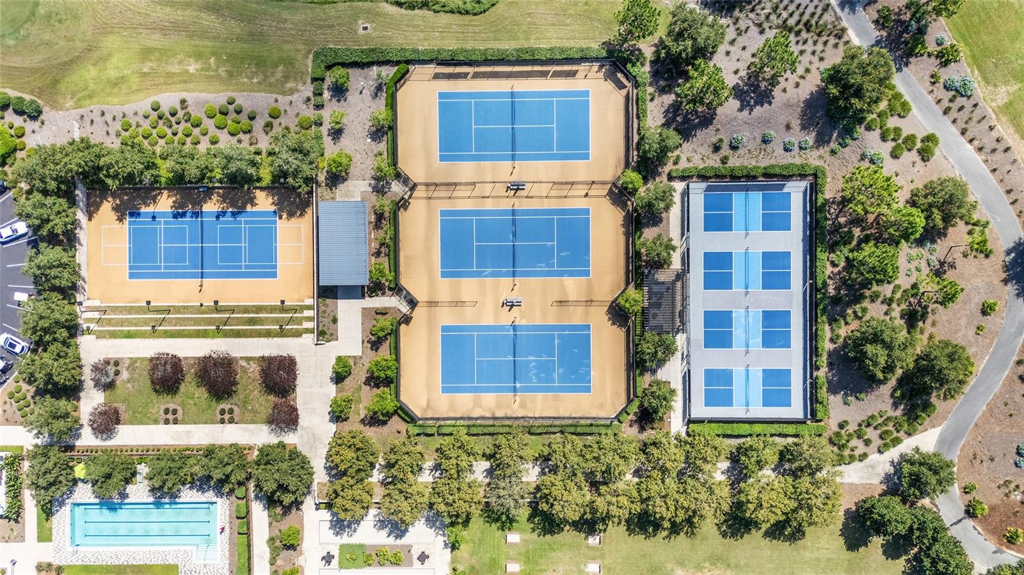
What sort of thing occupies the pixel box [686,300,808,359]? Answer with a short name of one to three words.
sports court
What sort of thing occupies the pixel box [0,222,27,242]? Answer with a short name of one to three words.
car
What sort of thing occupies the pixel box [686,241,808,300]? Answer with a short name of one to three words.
sports court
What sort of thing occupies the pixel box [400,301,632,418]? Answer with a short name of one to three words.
tennis court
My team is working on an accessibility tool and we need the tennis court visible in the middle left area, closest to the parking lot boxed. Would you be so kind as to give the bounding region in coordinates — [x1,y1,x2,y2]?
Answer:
[86,189,310,302]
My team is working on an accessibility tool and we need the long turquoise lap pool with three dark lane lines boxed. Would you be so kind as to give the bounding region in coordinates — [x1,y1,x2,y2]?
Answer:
[66,499,223,568]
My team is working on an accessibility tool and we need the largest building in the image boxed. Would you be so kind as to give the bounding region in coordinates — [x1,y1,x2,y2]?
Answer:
[317,200,370,286]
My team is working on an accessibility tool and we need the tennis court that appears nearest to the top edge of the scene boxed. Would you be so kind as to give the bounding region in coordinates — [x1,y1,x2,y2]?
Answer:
[397,65,631,184]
